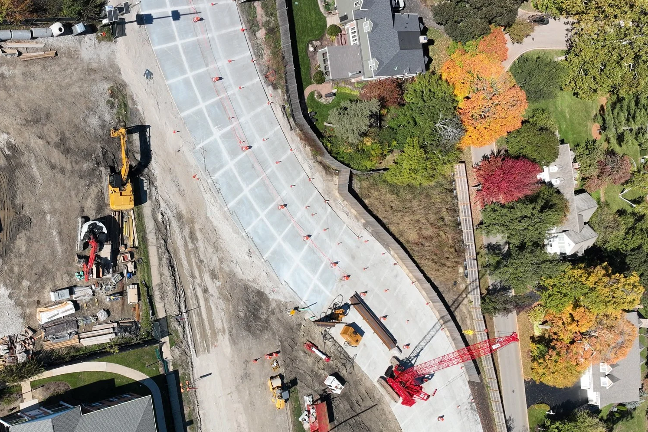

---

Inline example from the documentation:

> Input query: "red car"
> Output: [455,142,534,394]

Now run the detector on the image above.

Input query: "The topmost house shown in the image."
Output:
[316,0,427,83]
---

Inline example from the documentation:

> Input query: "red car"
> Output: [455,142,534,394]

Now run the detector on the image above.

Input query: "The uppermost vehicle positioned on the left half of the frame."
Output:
[103,126,134,211]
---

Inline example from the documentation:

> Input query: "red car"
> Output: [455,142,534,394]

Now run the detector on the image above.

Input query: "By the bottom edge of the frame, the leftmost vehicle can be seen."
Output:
[271,376,293,411]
